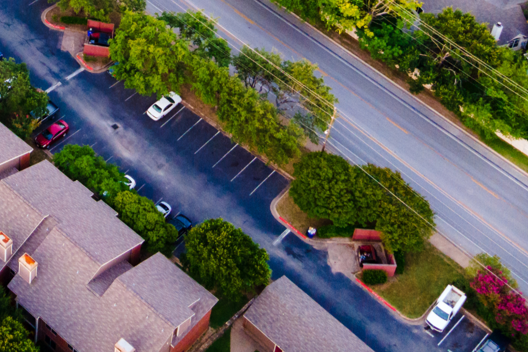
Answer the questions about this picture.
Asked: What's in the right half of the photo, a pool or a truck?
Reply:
truck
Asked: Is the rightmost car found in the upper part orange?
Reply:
No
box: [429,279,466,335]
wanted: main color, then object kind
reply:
white truck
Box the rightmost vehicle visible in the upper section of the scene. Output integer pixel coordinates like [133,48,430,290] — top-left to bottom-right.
[146,93,184,120]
